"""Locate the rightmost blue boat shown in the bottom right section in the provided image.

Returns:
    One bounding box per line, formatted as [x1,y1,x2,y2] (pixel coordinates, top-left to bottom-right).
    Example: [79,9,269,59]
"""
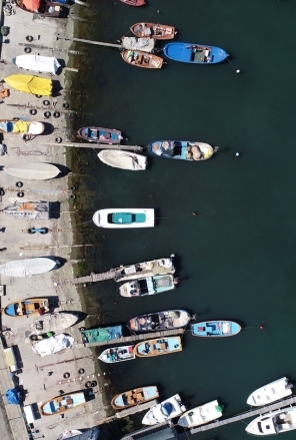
[190,321,241,337]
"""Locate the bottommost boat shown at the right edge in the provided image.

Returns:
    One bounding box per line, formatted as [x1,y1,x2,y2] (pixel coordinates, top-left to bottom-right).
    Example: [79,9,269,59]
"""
[245,403,296,435]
